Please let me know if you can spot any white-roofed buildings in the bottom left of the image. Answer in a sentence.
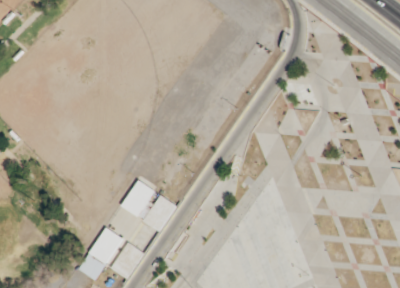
Yes, you'll find a white-roofed building in the bottom left of the image.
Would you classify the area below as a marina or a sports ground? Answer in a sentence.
It's a sports ground.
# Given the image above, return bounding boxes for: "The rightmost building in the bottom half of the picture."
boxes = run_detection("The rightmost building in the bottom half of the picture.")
[143,196,180,232]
